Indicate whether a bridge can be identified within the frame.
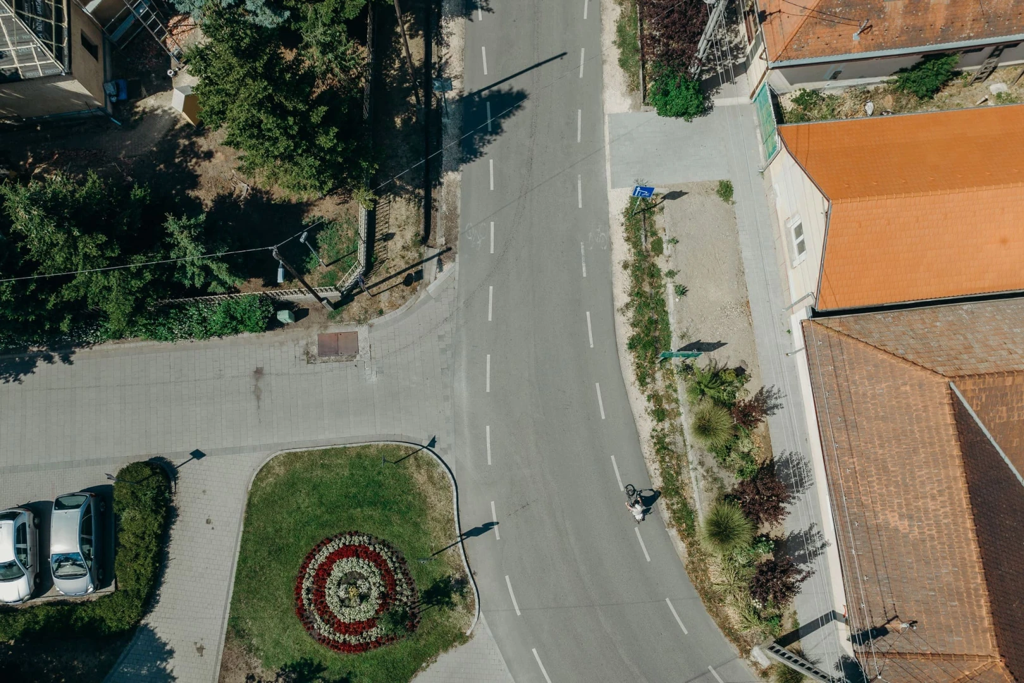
No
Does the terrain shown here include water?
No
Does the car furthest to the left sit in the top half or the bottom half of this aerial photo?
bottom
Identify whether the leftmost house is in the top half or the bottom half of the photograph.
top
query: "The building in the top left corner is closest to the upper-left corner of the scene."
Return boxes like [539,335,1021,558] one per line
[0,0,153,123]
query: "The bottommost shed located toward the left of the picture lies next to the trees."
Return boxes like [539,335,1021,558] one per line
[170,84,208,125]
